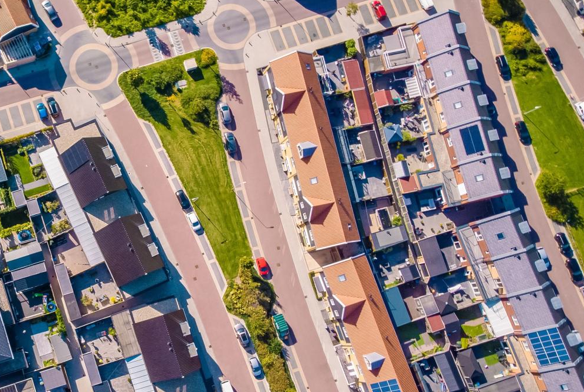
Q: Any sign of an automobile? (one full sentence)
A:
Yes, you can see an automobile in this photo.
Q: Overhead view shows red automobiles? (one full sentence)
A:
Yes, this view includes a red automobile.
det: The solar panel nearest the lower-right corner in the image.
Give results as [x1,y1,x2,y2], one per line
[528,328,570,367]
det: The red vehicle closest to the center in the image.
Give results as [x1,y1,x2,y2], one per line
[253,255,271,278]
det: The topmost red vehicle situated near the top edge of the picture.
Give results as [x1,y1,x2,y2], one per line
[368,0,387,23]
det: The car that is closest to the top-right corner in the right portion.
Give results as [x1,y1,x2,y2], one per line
[543,46,563,72]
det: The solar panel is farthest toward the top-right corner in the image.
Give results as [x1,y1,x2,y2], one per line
[460,124,485,155]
